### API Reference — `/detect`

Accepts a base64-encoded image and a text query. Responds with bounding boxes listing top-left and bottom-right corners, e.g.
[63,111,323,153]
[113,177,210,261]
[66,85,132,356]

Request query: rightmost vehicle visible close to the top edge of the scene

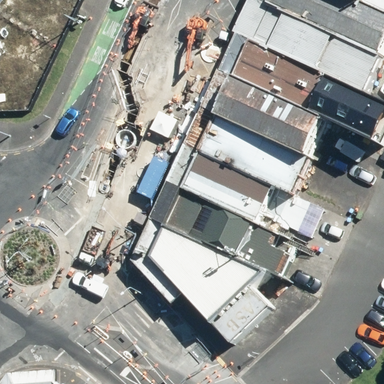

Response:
[184,12,212,70]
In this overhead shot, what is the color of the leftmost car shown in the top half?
blue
